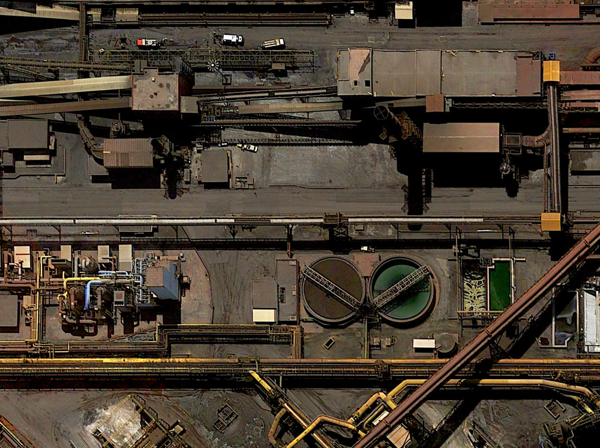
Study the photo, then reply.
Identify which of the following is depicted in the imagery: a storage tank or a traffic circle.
storage tank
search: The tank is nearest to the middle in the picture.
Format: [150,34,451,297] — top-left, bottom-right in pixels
[301,256,367,322]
